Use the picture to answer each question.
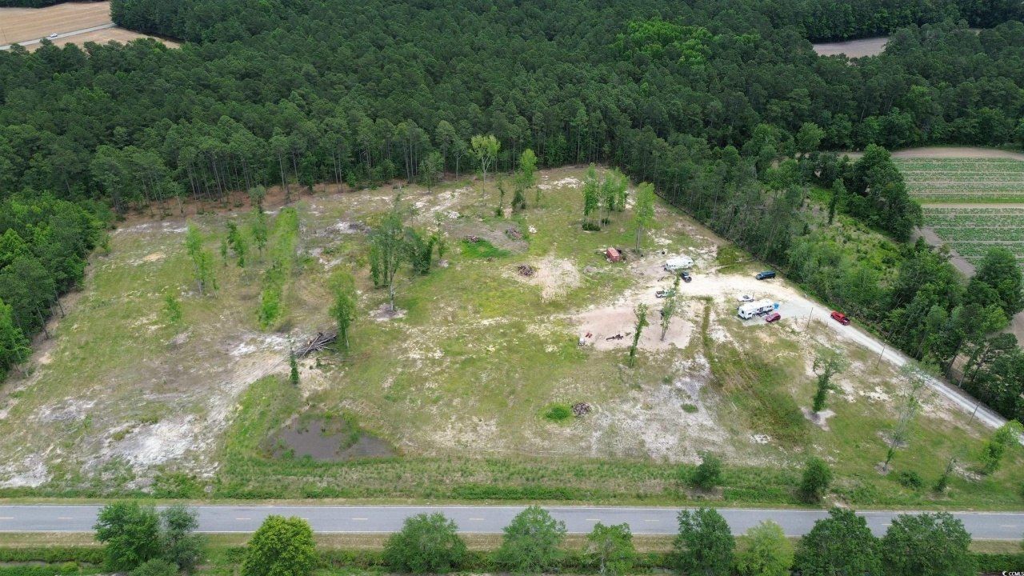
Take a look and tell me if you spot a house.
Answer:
No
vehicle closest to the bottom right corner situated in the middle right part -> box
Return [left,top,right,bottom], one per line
[831,313,853,326]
